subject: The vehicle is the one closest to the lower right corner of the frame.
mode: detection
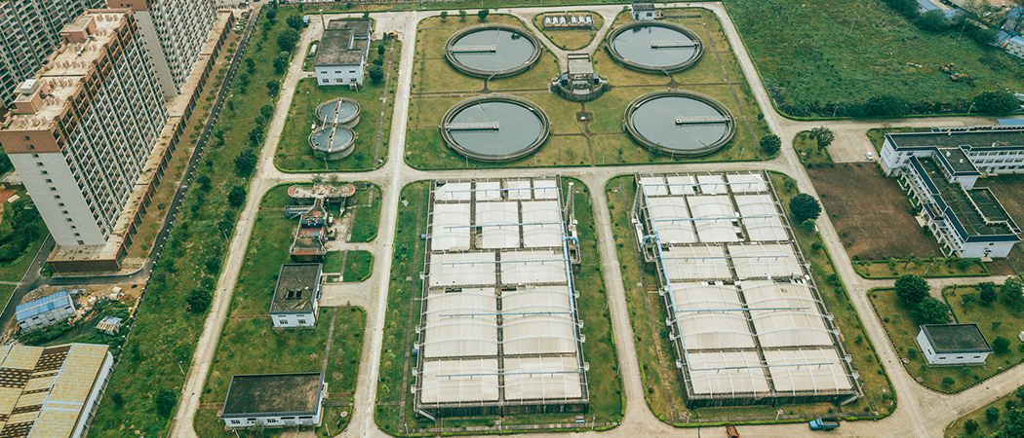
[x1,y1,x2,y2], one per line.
[808,417,843,431]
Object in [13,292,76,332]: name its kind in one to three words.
shed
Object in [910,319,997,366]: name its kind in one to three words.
building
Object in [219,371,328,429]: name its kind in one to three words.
house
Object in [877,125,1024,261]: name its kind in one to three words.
building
